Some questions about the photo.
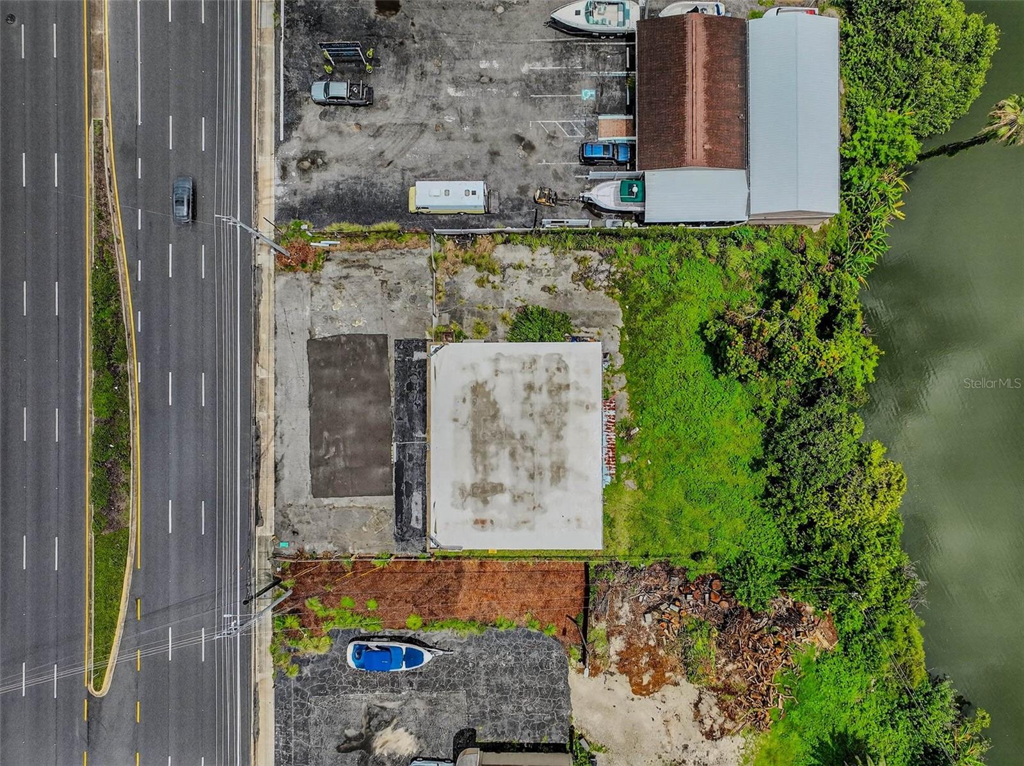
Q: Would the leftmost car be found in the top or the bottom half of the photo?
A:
top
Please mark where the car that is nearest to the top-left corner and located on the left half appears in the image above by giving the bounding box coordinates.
[171,176,198,225]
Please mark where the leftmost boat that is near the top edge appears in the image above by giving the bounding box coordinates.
[549,0,646,30]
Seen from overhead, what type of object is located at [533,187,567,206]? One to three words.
work vehicle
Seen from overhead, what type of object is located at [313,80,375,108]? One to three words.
truck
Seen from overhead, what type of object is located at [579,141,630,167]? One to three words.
car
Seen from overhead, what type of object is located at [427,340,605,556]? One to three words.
building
